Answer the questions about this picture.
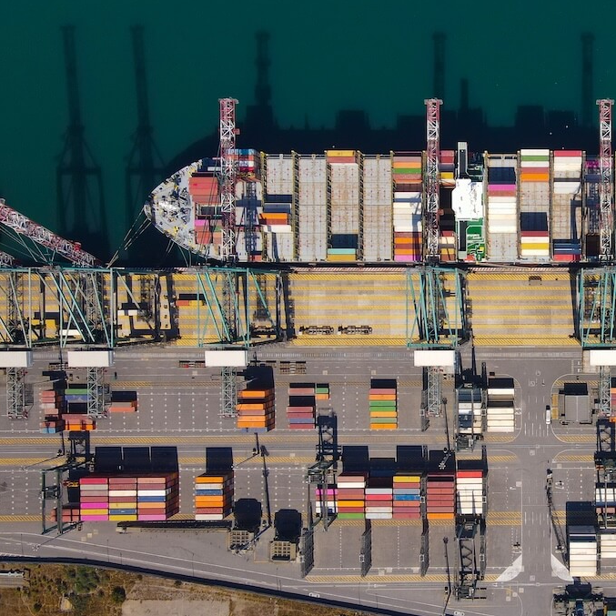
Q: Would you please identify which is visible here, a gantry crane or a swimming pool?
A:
gantry crane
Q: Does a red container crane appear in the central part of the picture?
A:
No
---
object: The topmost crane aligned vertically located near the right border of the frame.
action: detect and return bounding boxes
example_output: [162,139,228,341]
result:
[569,97,616,420]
